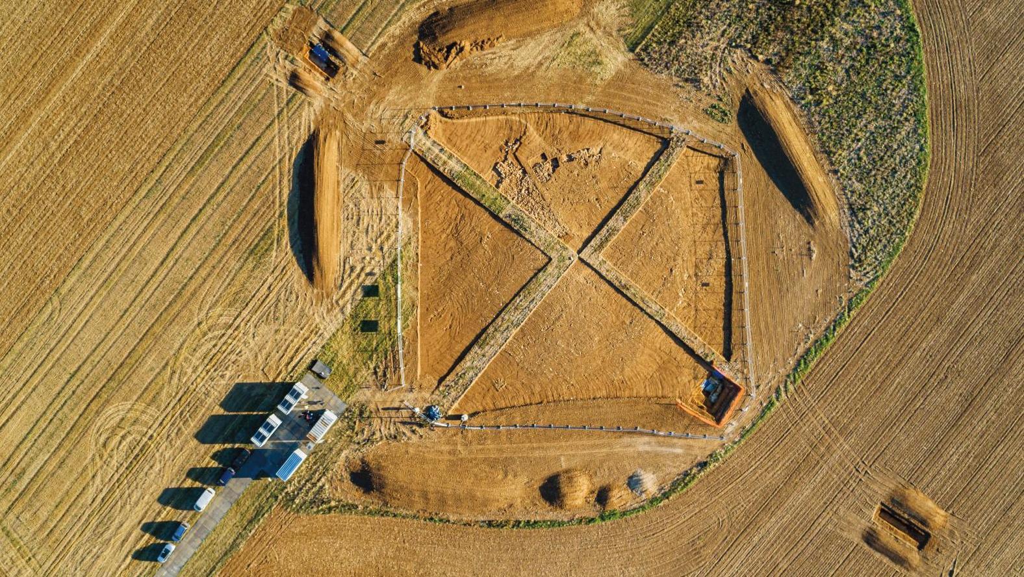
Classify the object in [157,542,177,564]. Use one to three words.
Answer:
car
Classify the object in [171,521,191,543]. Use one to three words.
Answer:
car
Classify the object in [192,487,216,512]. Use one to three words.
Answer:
vehicle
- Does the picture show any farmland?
Yes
